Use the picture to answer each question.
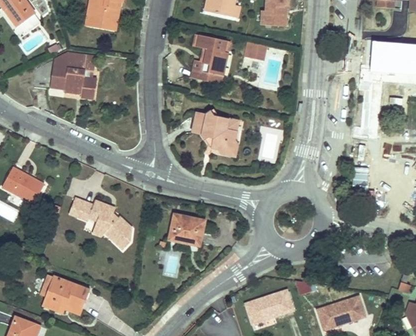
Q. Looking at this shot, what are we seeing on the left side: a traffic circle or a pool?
pool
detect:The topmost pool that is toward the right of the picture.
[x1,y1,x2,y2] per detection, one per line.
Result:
[263,58,282,86]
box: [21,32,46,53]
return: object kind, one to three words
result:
swimming pool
